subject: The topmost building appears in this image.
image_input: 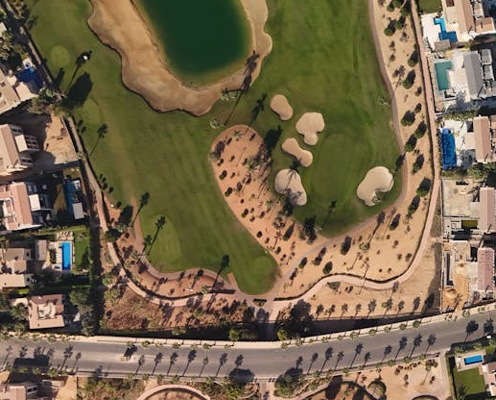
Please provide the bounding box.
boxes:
[442,0,496,41]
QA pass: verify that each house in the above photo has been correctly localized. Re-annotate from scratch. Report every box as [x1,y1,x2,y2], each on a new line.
[0,181,56,228]
[454,240,496,293]
[0,123,42,174]
[470,186,496,234]
[464,114,496,162]
[442,0,496,41]
[0,61,40,119]
[0,380,65,400]
[443,48,496,98]
[0,239,50,286]
[29,293,77,329]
